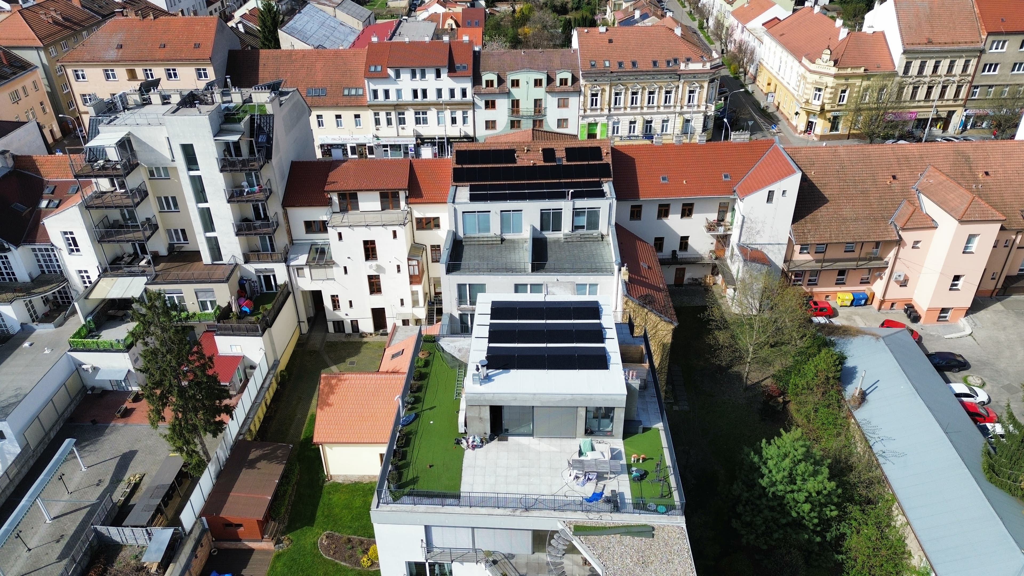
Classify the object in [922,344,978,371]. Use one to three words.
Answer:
car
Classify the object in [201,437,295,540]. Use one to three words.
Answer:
shed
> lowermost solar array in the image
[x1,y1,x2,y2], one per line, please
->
[468,300,622,371]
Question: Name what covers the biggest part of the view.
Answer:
buildings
